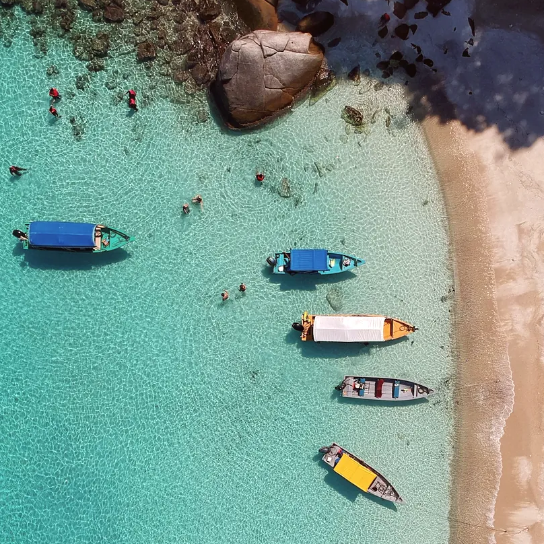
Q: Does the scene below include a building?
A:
No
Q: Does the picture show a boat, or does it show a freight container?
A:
boat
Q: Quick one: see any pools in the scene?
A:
No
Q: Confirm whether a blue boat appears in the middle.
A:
Yes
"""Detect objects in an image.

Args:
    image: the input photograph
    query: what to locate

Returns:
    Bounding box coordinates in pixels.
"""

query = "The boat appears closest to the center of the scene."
[264,248,365,276]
